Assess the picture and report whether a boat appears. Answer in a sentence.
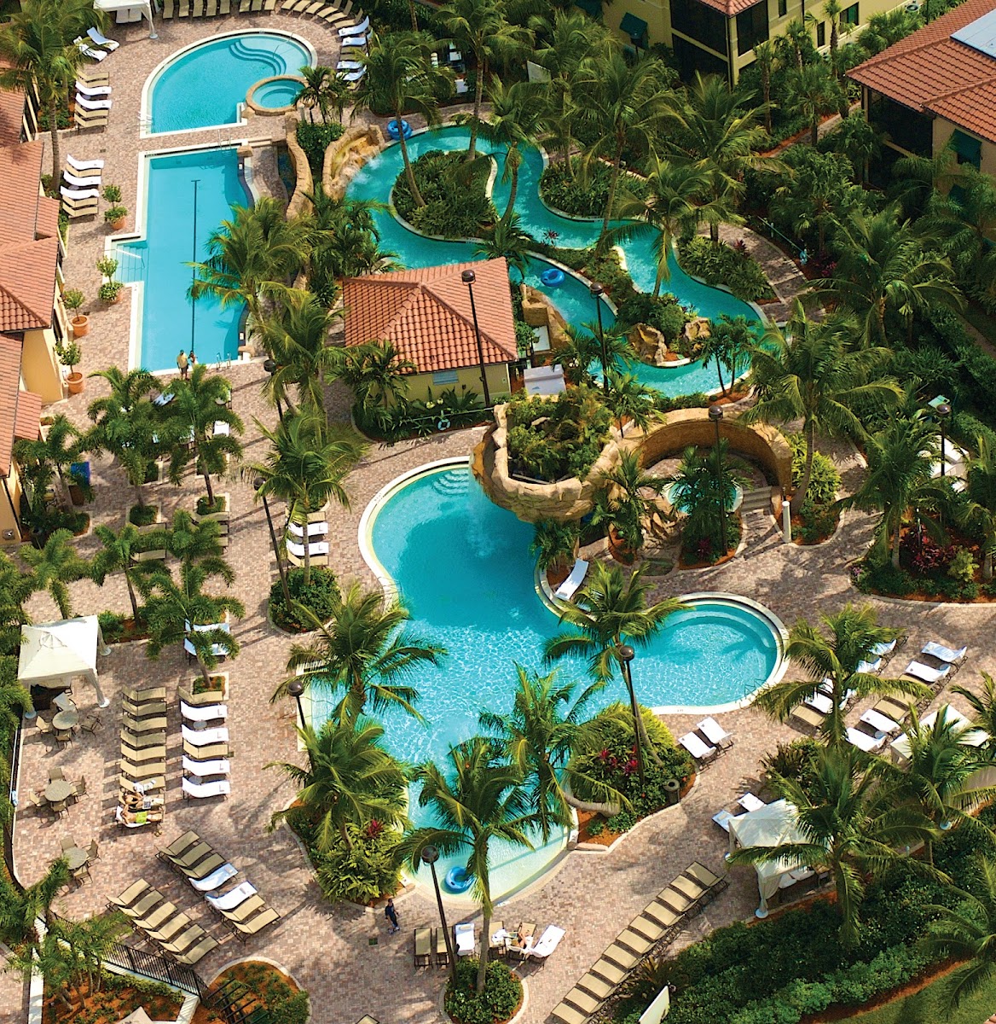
No, there appears to be no boat in this shot.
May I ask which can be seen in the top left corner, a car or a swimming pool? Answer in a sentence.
What appears in the top left corner is a swimming pool.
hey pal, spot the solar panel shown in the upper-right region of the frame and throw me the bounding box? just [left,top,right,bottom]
[950,10,996,61]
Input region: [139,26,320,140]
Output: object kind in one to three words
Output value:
swimming pool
